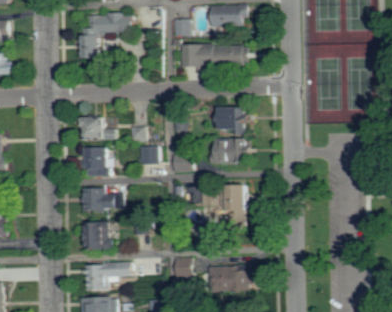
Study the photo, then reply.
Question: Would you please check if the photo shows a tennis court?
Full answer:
Yes, the photo shows a tennis court.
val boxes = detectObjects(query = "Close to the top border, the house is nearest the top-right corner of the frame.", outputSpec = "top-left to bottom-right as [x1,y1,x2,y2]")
[208,4,248,27]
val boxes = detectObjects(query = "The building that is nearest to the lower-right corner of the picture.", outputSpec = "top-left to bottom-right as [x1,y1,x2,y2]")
[208,266,252,292]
